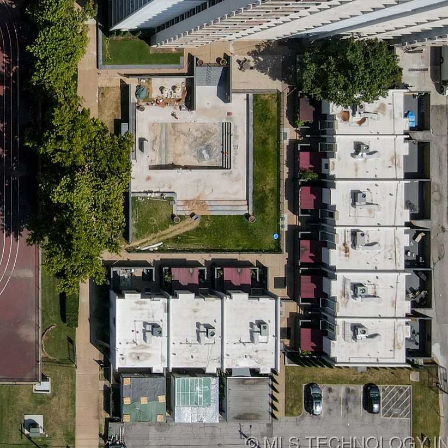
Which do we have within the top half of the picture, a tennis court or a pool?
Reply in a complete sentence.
You can see a pool within the top half of the picture.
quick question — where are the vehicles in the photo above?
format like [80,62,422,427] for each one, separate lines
[365,383,380,412]
[307,384,323,413]
[439,46,448,94]
[109,421,128,448]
